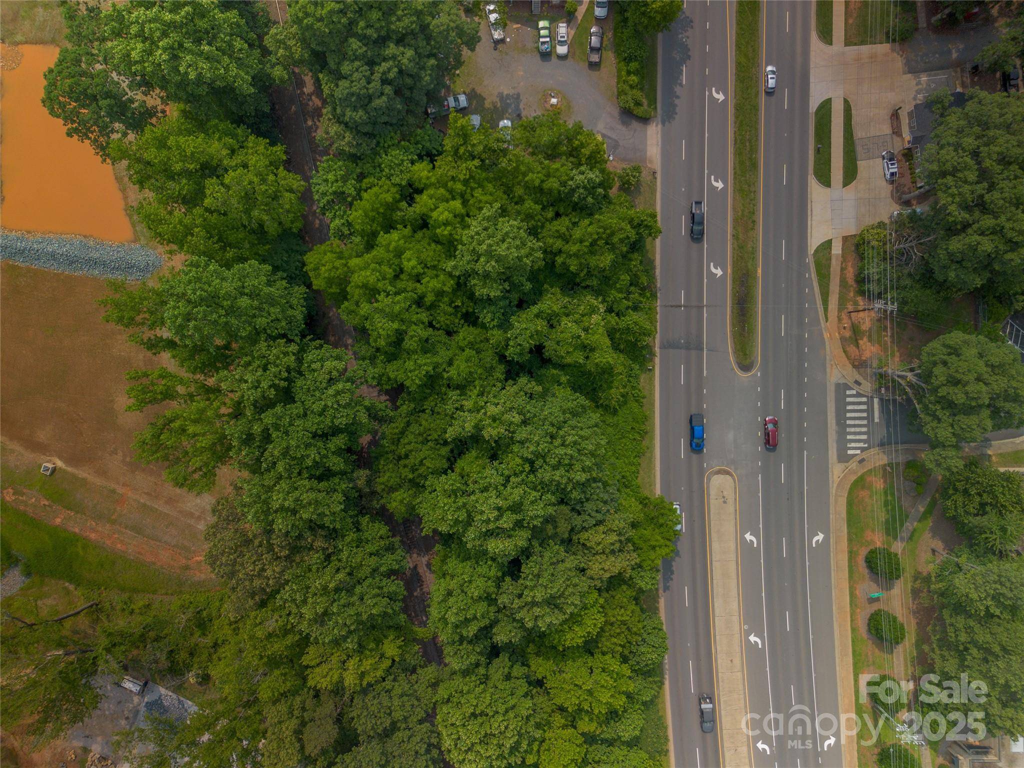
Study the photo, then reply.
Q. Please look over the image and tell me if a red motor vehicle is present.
Yes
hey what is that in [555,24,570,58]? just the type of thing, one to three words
car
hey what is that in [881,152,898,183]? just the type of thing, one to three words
car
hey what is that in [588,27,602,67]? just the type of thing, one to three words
vehicle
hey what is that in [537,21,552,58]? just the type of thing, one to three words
vehicle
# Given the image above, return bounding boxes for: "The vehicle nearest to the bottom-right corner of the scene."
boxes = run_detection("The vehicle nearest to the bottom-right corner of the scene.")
[697,692,714,731]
